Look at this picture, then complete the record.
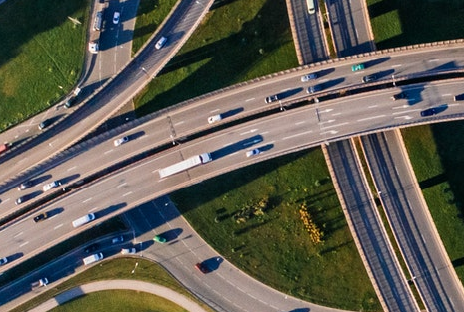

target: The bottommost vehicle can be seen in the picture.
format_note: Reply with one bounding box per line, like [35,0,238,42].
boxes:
[28,275,52,291]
